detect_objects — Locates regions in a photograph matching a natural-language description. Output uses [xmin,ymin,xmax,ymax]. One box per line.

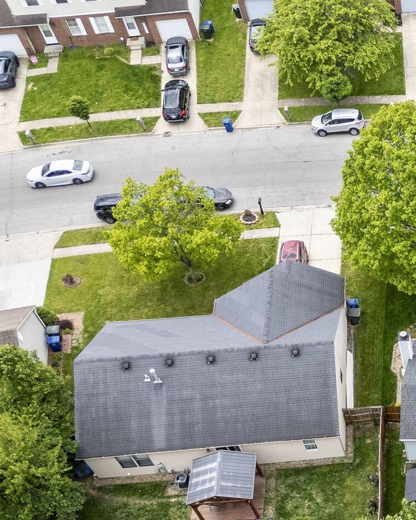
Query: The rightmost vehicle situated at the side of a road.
[310,106,367,137]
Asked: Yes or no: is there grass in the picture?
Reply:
Yes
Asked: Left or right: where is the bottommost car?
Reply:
right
